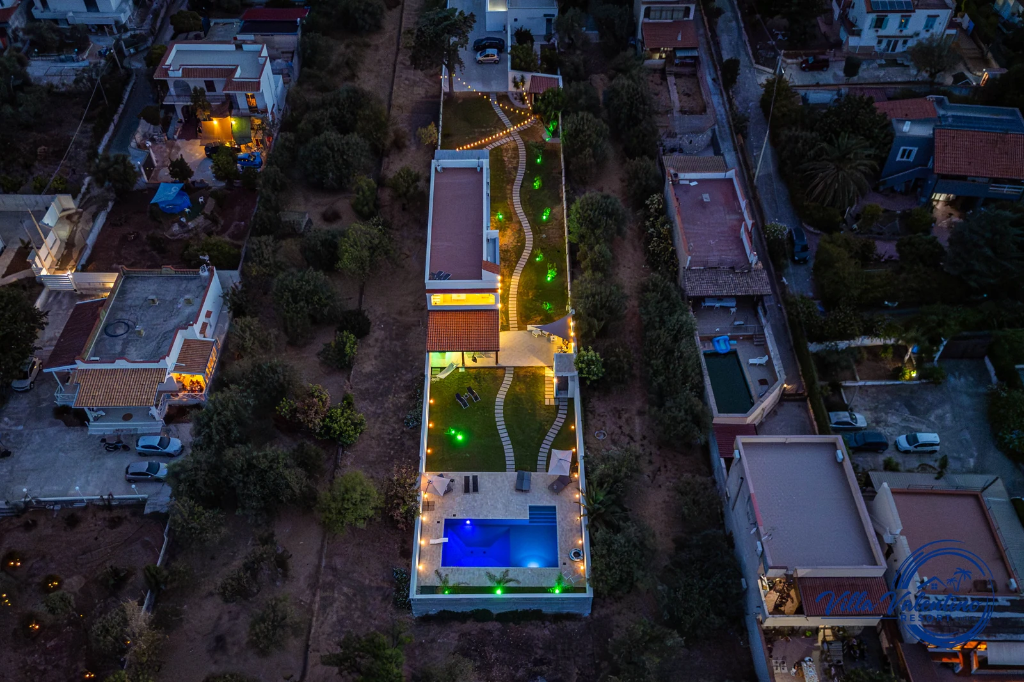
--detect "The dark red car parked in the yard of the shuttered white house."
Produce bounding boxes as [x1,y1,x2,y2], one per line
[799,57,831,73]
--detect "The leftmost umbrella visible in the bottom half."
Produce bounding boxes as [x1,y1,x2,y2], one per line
[419,474,451,512]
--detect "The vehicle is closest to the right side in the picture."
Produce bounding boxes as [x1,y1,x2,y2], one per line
[894,433,942,456]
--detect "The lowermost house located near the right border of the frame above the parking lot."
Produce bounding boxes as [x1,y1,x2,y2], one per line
[863,95,1024,216]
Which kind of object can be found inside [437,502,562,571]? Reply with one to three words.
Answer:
swimming pool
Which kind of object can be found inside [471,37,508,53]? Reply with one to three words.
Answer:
car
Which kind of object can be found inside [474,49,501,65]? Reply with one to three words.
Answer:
car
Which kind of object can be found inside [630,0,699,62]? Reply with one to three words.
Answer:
house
